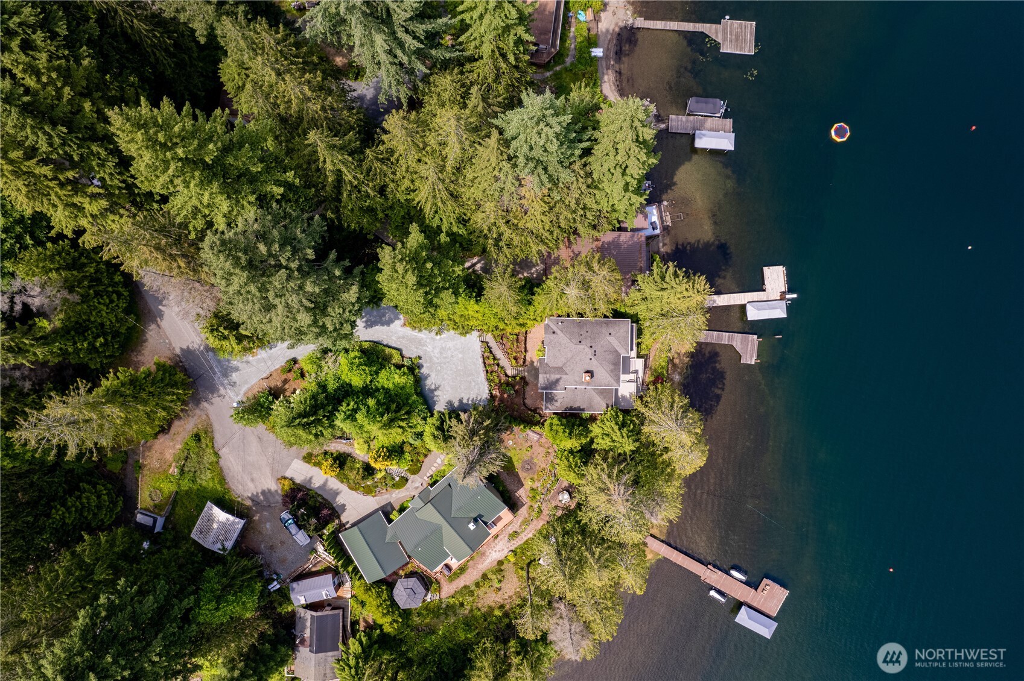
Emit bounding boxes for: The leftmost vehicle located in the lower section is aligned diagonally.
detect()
[278,512,309,549]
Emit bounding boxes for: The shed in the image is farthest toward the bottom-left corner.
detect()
[134,510,167,533]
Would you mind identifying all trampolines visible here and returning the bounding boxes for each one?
[830,123,848,141]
